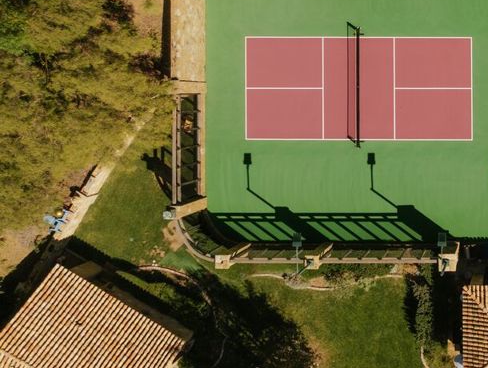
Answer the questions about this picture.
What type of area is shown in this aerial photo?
sports ground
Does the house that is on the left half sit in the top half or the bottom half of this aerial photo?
bottom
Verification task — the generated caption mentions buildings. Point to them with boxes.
[0,259,205,368]
[462,275,488,368]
